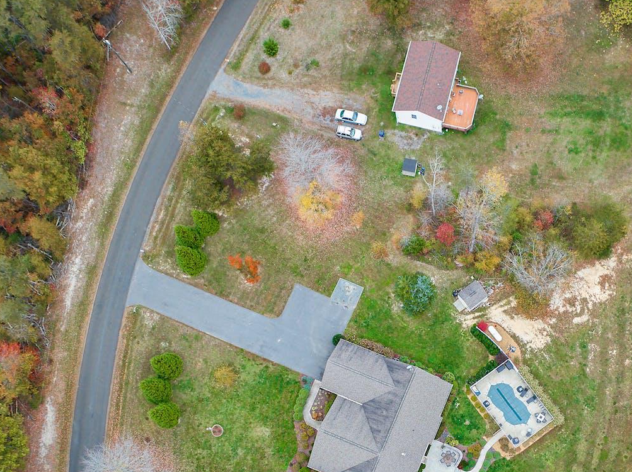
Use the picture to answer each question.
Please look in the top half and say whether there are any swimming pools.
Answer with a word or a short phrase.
No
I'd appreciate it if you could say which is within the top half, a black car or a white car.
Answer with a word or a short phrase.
white car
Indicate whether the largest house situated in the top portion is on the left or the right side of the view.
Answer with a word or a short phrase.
right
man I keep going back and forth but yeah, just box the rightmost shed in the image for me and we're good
[455,281,488,312]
